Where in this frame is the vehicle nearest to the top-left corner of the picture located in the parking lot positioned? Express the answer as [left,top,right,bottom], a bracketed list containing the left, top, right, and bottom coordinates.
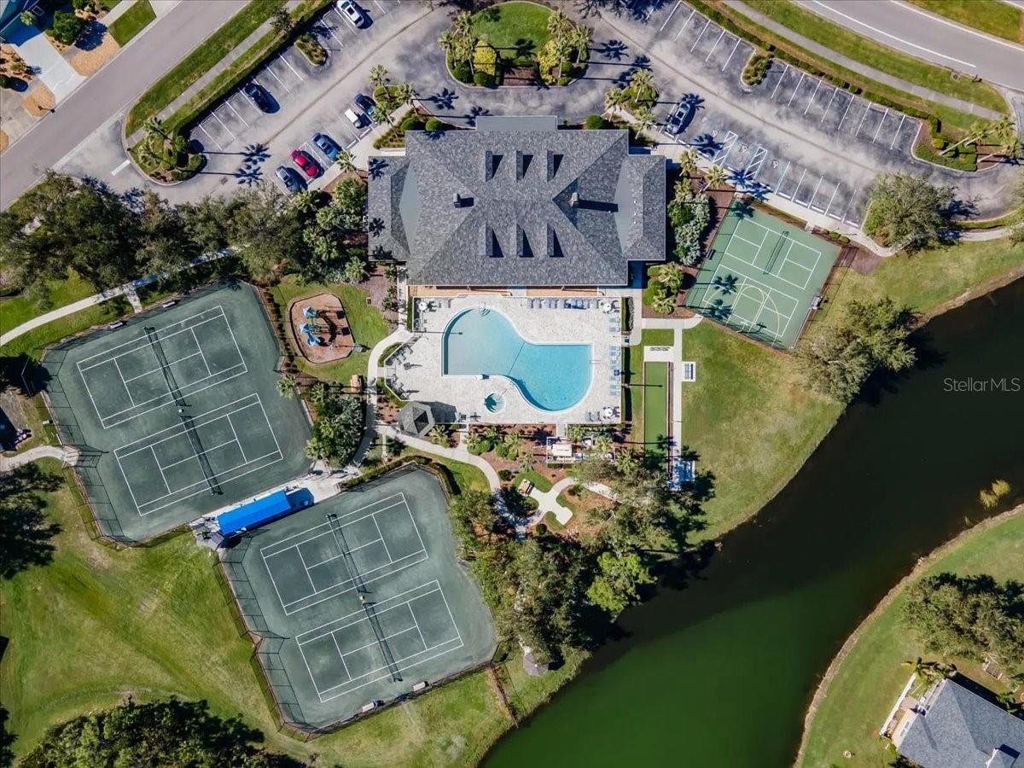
[242,81,271,112]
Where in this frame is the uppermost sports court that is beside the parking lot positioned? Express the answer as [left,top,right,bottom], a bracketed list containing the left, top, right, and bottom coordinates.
[686,200,841,348]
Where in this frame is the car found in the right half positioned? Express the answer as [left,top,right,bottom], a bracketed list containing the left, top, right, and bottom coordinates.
[669,101,692,134]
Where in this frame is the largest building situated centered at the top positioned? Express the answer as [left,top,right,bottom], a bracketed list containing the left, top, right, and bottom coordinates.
[368,116,666,287]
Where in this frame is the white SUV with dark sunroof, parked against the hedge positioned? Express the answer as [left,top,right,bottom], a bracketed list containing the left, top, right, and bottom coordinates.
[334,0,363,29]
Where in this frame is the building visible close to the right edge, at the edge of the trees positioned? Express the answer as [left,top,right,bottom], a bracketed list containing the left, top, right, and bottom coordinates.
[886,678,1024,768]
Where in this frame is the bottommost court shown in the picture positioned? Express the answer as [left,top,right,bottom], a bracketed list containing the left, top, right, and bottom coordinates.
[252,556,497,730]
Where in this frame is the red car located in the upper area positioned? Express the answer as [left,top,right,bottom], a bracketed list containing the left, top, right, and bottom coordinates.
[290,148,318,178]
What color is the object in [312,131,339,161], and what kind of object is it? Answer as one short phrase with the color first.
blue car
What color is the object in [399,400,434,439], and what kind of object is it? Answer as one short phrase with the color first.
gray gazebo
